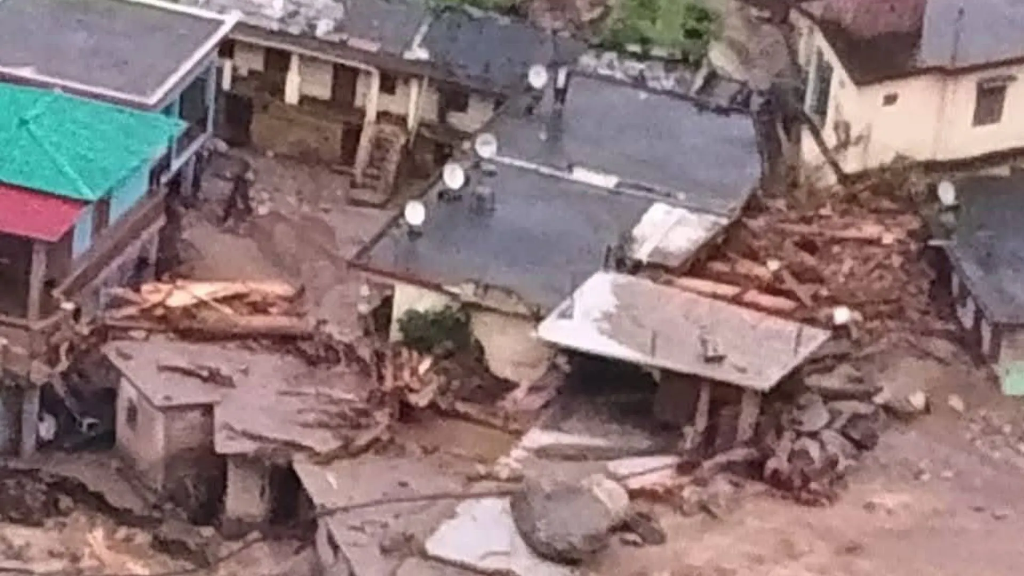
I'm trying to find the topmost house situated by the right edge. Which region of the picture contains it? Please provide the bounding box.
[784,0,1024,178]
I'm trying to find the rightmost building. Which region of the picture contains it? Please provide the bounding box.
[927,168,1024,394]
